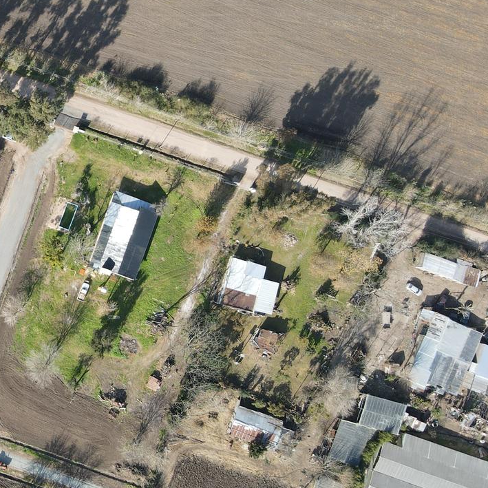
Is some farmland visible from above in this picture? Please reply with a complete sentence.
Yes, farmland shows up in the scene.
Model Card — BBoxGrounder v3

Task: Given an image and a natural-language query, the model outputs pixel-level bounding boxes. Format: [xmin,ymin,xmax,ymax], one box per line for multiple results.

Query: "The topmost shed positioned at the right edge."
[417,254,480,287]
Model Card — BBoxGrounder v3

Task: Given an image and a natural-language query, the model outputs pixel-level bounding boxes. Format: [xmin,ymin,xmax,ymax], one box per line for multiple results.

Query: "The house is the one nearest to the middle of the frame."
[217,256,278,315]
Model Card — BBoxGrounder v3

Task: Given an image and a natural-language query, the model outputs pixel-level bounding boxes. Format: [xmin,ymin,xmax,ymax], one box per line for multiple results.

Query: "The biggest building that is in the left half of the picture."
[89,191,159,282]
